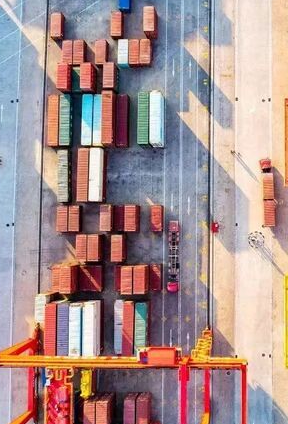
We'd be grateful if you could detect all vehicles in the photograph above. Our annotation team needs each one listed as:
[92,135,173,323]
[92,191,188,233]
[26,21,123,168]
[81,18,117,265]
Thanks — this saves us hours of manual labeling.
[259,158,273,177]
[166,223,181,292]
